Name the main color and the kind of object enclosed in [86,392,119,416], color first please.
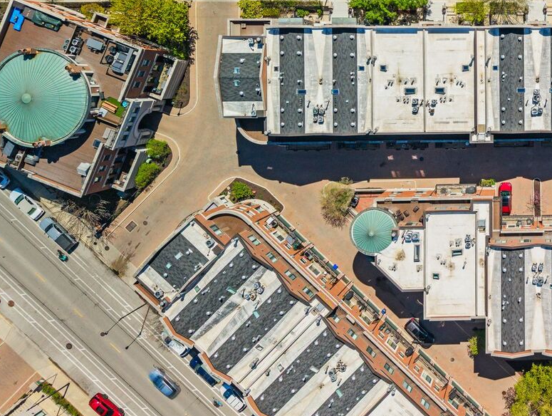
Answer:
red car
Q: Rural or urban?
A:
urban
